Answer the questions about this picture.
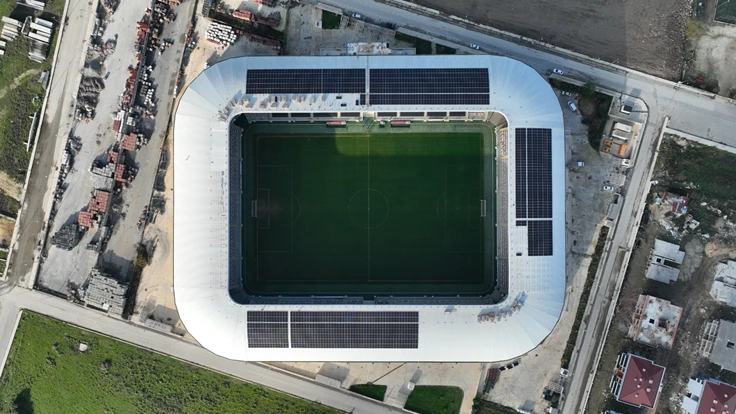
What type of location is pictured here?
sports ground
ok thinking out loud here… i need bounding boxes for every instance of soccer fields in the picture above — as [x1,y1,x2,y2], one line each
[242,120,495,296]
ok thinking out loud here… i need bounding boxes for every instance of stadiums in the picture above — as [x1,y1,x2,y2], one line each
[172,55,566,362]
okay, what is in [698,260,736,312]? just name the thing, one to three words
house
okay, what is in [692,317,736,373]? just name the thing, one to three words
house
